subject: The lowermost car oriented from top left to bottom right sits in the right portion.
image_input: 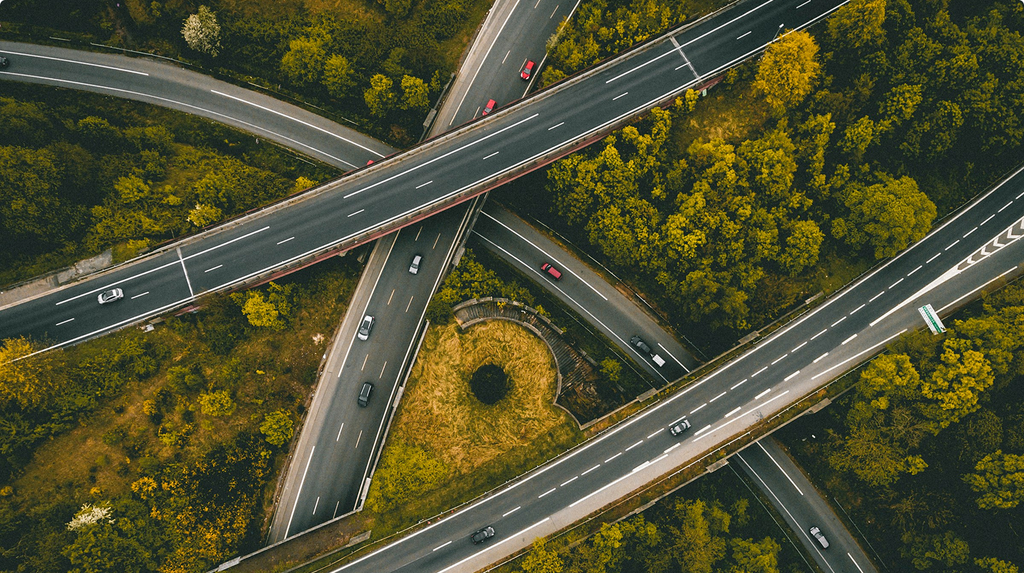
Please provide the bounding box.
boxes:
[808,525,832,552]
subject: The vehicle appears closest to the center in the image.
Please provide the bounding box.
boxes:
[540,262,564,282]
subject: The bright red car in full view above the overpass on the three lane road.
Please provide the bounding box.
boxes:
[520,59,536,80]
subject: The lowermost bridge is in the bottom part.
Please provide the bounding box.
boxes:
[203,507,418,573]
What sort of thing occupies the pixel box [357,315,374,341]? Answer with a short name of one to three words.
car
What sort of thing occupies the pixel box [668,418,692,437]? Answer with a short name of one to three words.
car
